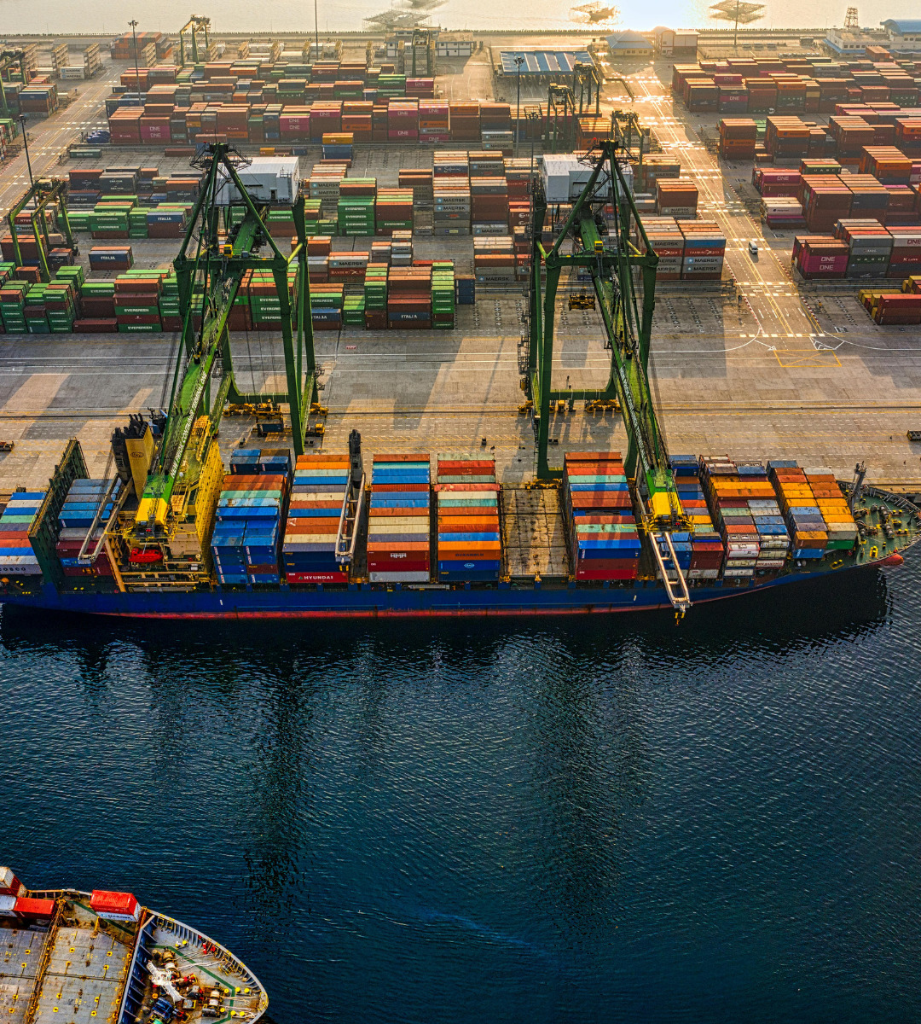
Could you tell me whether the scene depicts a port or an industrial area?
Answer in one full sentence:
What you see here is a port.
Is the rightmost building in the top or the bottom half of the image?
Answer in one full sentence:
The top half of the photo is where the rightmost building is.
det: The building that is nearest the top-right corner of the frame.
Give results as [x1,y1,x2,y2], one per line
[863,3,921,50]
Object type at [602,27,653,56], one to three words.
building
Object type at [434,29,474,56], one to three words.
building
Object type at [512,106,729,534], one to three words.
container crane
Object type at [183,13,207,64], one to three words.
container crane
